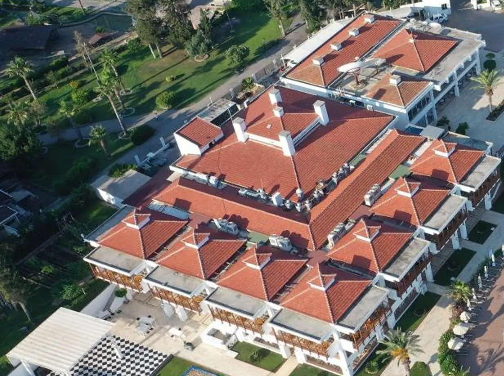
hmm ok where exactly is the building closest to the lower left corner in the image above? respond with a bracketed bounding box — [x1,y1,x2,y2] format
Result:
[8,308,127,376]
